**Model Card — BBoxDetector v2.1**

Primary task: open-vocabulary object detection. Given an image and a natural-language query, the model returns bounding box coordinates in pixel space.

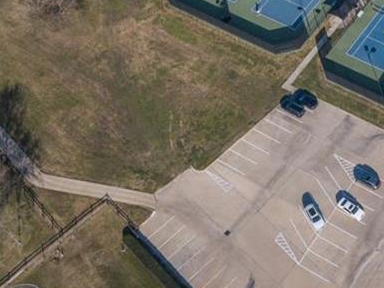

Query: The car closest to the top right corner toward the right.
[293,87,318,107]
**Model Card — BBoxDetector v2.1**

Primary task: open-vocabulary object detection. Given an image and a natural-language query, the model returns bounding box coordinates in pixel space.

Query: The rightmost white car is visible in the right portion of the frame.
[336,196,363,218]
